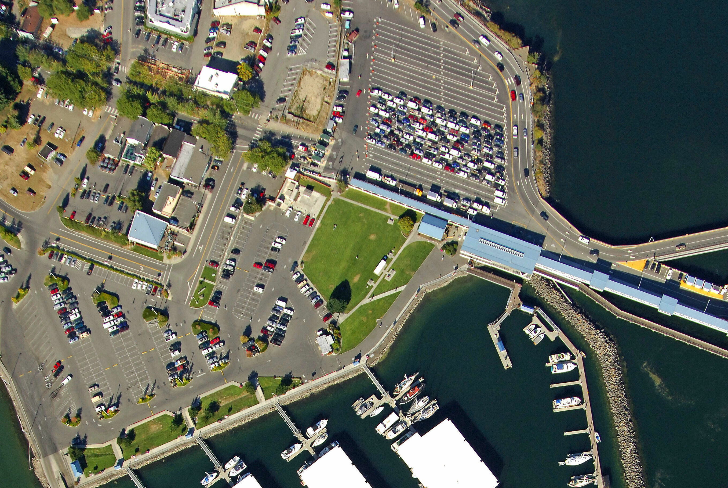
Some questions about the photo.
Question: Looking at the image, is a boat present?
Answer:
Yes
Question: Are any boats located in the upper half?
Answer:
No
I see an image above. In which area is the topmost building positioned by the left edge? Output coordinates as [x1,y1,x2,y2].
[21,7,45,38]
